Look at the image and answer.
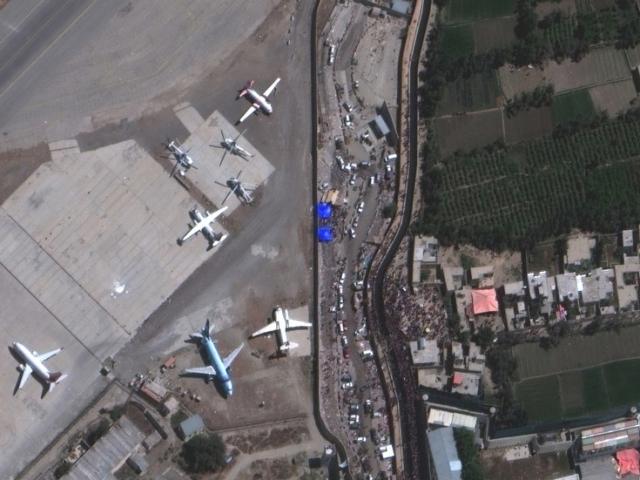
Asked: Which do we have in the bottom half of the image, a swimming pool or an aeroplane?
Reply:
aeroplane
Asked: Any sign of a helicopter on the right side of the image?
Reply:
No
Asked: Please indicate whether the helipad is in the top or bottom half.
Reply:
top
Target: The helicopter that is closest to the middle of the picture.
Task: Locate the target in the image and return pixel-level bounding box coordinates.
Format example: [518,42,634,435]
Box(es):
[218,169,254,202]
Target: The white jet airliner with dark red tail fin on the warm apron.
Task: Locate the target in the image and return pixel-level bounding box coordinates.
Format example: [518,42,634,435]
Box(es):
[13,342,65,389]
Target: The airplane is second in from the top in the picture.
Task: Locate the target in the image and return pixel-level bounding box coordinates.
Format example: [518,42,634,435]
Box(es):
[179,209,234,244]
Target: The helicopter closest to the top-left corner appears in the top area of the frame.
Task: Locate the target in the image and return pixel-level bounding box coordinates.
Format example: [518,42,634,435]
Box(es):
[168,138,203,174]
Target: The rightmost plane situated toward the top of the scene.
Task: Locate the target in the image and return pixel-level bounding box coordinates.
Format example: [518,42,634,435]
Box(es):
[236,79,282,119]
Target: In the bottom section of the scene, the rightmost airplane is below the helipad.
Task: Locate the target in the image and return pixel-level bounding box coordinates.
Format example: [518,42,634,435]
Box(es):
[252,308,314,349]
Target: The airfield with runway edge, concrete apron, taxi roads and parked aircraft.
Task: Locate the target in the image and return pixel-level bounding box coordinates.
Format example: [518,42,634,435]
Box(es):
[0,0,321,480]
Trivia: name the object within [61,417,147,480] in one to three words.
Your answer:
hangar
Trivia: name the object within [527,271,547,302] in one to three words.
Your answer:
house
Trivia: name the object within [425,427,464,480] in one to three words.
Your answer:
building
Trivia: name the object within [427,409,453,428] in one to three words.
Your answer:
shed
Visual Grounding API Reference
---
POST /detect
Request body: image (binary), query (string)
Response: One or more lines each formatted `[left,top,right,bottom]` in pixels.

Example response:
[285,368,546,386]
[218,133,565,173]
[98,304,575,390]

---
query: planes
[179,209,234,244]
[182,325,248,396]
[13,342,65,389]
[236,79,282,119]
[252,308,314,349]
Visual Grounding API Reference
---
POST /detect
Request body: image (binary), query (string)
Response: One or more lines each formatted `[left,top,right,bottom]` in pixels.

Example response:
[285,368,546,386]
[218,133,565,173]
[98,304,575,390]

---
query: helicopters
[218,169,254,202]
[214,127,256,159]
[168,138,203,174]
